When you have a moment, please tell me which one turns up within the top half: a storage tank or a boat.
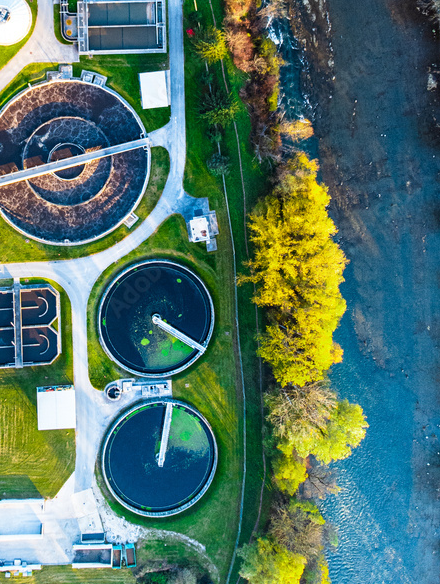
storage tank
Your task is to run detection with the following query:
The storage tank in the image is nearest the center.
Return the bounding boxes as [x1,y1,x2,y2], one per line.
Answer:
[100,260,214,375]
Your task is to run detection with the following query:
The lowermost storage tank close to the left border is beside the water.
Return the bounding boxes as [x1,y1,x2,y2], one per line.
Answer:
[0,77,151,247]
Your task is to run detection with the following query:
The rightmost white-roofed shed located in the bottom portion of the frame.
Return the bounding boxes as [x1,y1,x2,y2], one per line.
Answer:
[37,385,75,430]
